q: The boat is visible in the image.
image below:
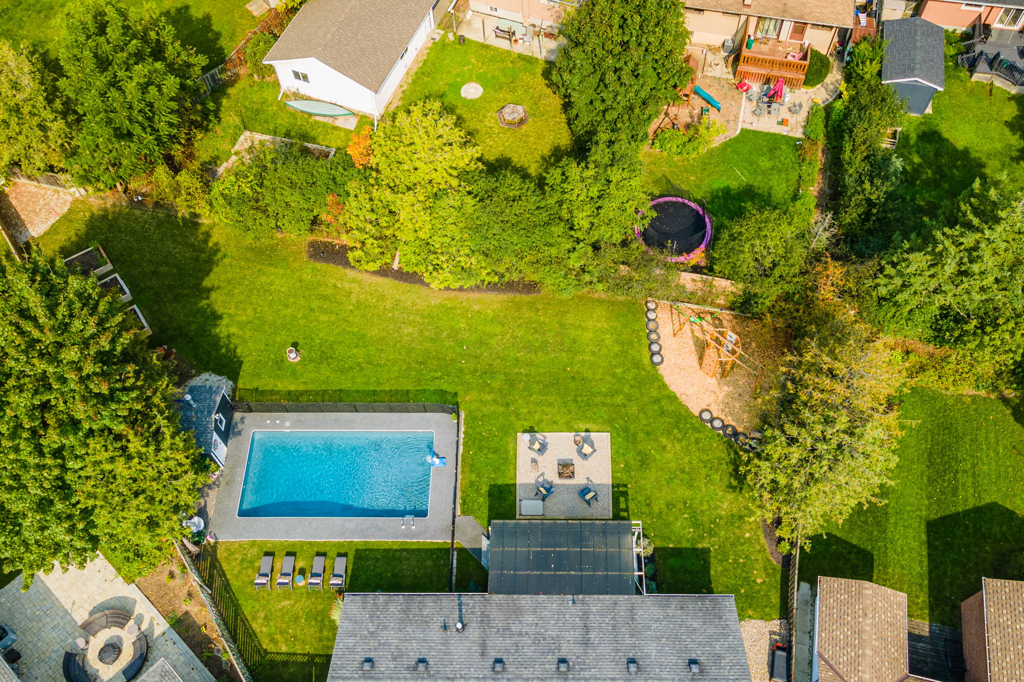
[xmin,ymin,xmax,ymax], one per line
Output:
[283,99,354,114]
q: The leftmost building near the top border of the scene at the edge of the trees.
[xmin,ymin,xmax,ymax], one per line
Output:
[267,0,445,125]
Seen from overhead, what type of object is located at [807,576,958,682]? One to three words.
house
